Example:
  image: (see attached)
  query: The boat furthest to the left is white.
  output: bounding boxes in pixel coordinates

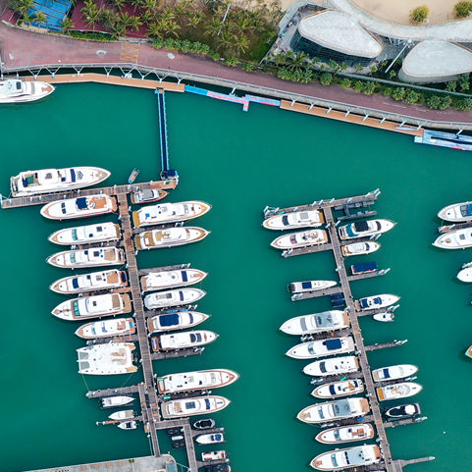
[0,74,56,102]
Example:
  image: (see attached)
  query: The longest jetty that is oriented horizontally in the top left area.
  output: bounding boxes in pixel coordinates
[29,67,184,93]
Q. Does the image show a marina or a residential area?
marina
